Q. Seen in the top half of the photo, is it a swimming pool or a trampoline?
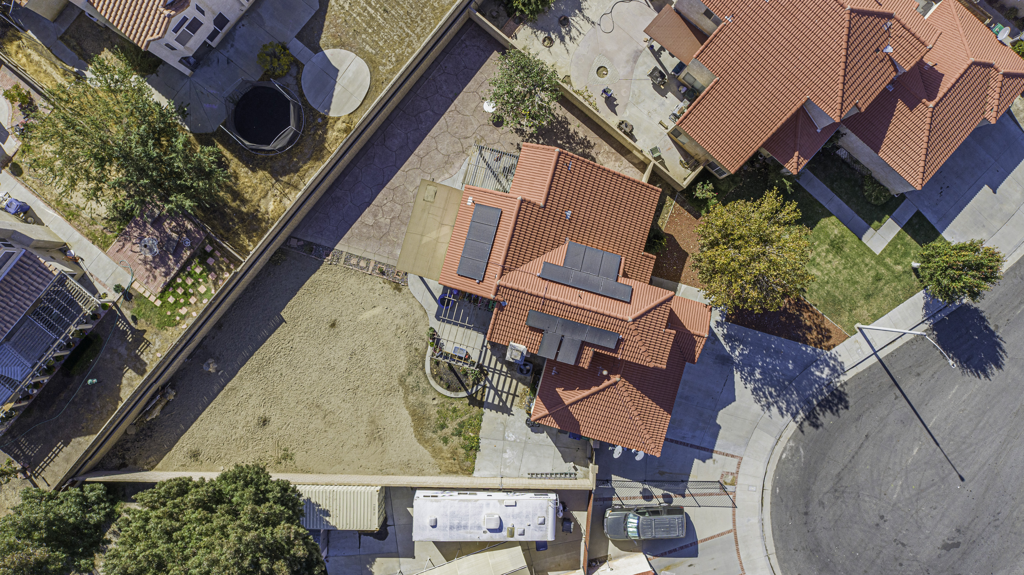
trampoline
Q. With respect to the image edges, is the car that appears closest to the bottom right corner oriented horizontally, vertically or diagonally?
horizontally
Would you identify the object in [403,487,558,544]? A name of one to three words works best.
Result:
vehicle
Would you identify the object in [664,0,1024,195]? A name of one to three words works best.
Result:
house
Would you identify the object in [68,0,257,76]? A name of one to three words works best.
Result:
house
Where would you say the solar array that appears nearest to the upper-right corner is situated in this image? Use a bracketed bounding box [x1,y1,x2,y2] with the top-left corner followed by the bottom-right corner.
[541,241,633,301]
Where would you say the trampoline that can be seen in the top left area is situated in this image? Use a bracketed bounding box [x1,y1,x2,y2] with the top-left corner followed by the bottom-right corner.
[215,73,305,159]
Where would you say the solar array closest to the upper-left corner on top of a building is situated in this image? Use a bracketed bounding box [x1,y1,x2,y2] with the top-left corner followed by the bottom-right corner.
[455,203,500,280]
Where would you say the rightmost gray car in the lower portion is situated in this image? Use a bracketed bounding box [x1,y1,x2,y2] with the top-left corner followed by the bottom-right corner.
[601,502,684,544]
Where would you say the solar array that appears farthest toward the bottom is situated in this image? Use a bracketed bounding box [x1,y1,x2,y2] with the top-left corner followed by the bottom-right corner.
[526,311,619,366]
